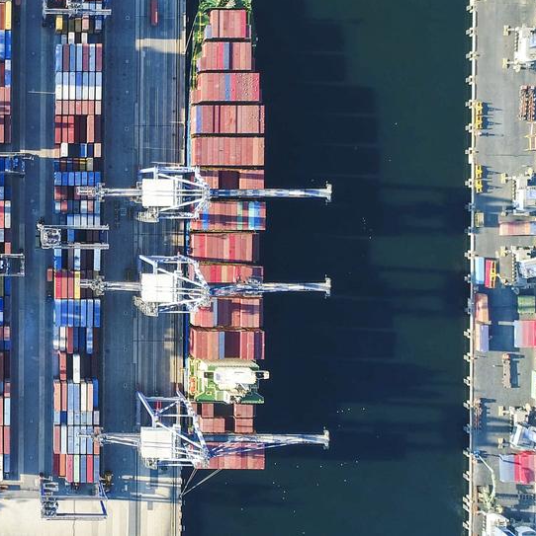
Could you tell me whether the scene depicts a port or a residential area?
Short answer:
port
